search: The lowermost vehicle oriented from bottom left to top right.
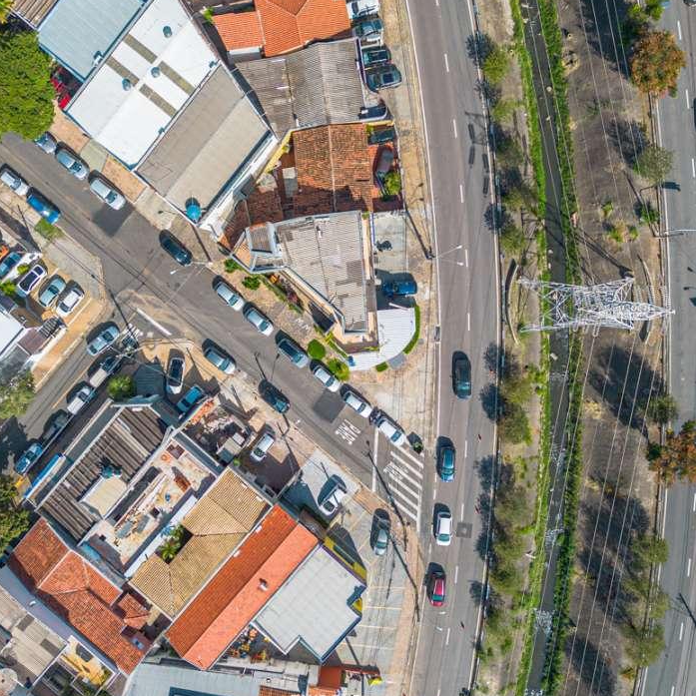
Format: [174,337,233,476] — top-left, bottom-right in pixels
[318,477,347,514]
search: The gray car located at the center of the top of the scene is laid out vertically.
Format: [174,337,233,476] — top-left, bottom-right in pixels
[378,142,396,178]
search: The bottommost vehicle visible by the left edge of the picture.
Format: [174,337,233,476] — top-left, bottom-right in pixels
[13,442,43,474]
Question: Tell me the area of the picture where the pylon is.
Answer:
right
